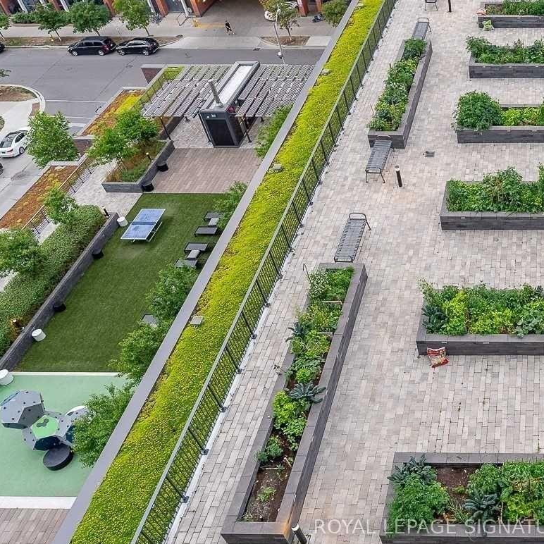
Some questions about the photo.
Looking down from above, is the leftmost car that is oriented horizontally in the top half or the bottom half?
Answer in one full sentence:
You can find the leftmost car that is oriented horizontally in the top half.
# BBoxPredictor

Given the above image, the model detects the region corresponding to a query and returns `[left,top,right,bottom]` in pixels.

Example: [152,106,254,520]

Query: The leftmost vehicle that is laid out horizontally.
[65,32,120,55]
